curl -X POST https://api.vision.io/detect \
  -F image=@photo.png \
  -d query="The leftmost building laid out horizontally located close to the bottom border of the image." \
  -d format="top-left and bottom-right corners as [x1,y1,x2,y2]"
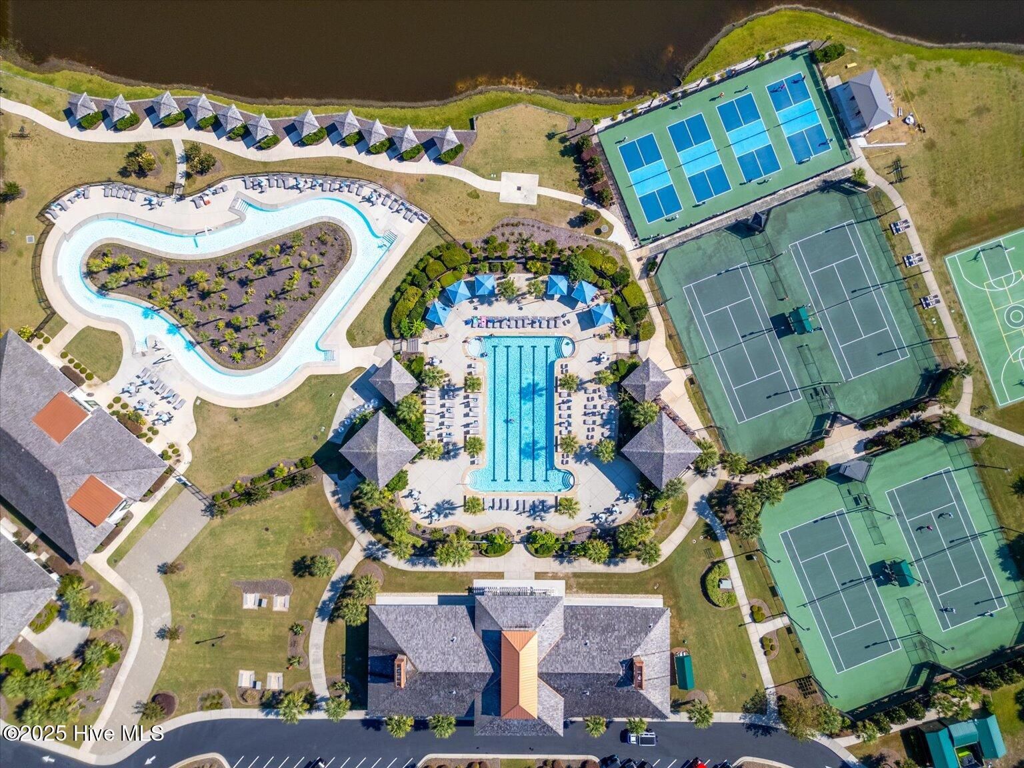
[368,594,670,736]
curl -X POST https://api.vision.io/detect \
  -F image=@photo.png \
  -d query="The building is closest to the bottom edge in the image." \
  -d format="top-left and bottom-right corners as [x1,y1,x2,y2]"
[918,709,1007,768]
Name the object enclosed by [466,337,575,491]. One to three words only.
swimming pool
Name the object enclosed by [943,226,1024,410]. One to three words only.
basketball court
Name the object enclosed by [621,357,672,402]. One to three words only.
building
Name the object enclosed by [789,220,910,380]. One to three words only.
tennis court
